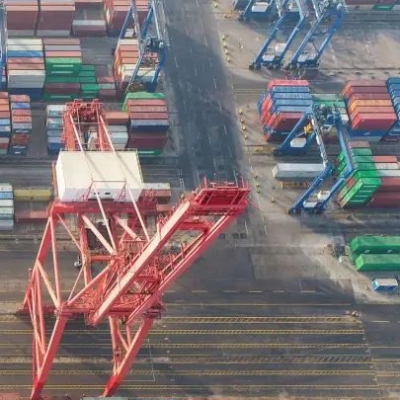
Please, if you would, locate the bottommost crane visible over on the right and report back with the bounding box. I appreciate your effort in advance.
[271,104,356,213]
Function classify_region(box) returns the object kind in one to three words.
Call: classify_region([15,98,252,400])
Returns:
container crane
